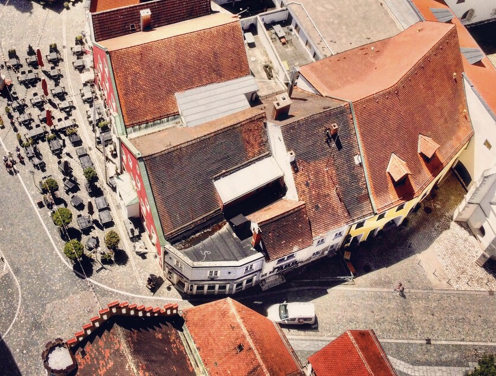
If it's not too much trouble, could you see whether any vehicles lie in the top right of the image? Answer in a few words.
No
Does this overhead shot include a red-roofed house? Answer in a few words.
Yes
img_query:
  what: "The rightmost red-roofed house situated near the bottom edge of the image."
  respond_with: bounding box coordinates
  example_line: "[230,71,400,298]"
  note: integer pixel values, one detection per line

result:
[304,331,393,376]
